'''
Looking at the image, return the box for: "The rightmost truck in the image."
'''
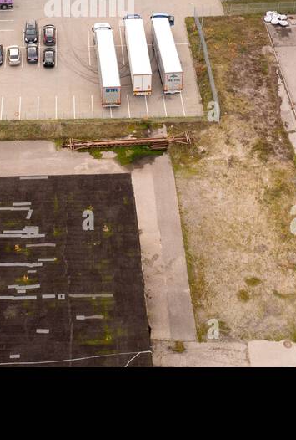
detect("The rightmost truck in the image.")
[147,13,184,92]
